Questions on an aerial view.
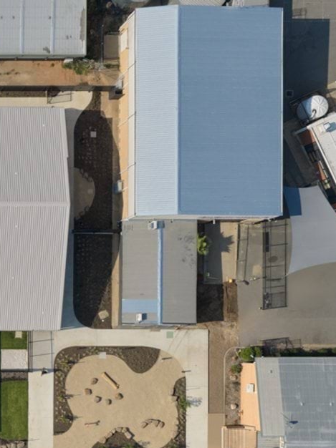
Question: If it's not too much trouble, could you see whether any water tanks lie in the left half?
No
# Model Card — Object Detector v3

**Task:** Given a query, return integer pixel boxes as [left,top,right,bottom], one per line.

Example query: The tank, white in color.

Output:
[296,97,326,121]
